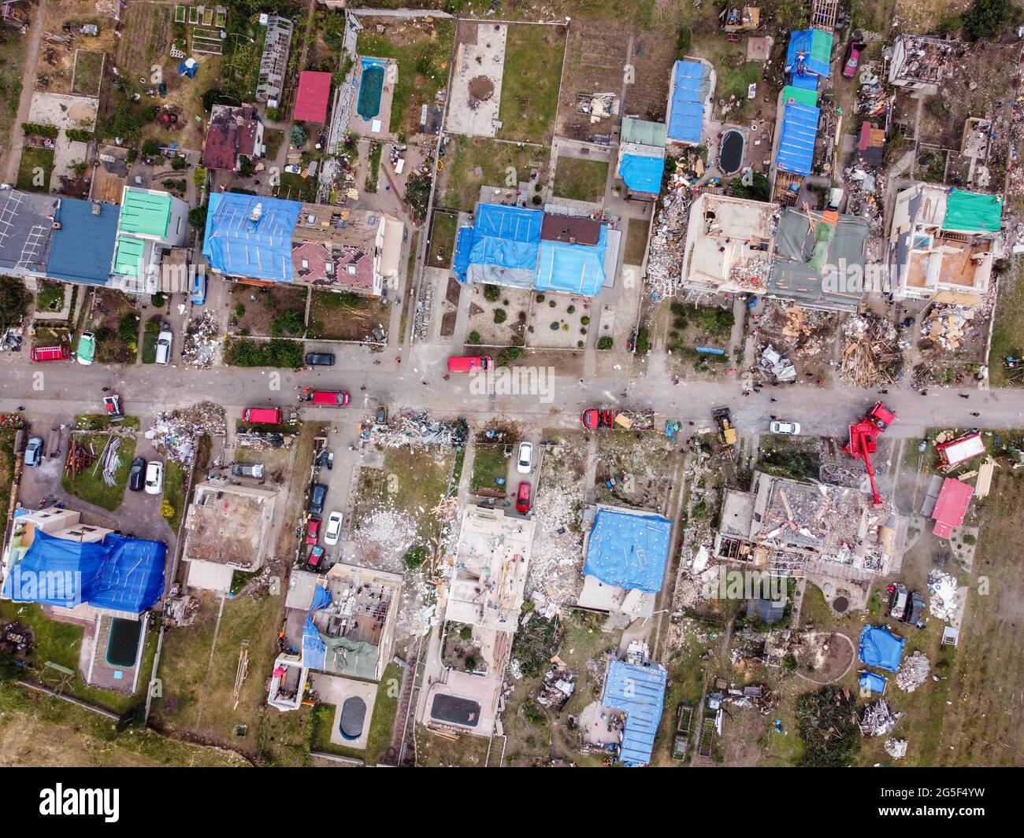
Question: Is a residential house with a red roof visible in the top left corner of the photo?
Yes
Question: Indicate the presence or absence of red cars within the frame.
Yes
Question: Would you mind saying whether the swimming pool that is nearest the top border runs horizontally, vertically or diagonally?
vertically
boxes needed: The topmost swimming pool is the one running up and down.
[357,59,388,121]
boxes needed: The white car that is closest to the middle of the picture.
[516,441,534,475]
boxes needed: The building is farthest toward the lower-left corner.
[0,504,179,621]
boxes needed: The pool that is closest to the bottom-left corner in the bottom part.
[104,617,142,669]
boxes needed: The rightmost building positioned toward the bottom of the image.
[913,475,973,538]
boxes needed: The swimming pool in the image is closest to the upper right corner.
[719,126,747,174]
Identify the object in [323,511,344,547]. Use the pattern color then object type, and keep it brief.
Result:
white car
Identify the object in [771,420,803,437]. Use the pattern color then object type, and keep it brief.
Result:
white car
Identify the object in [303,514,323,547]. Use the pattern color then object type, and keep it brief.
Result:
red car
